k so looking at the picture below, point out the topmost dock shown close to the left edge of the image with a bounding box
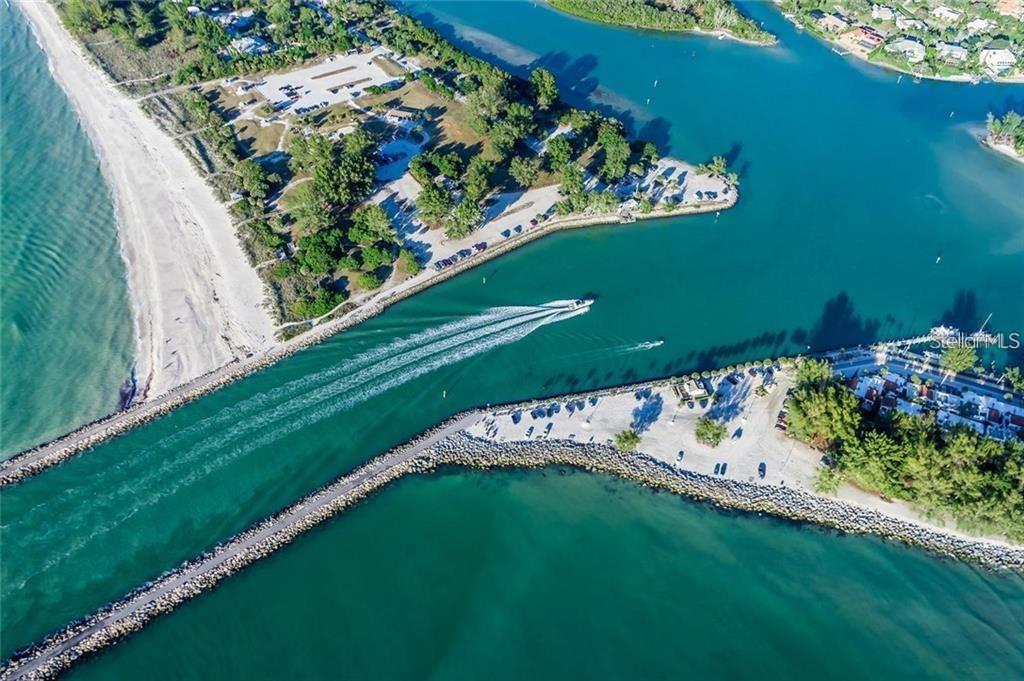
[0,355,262,485]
